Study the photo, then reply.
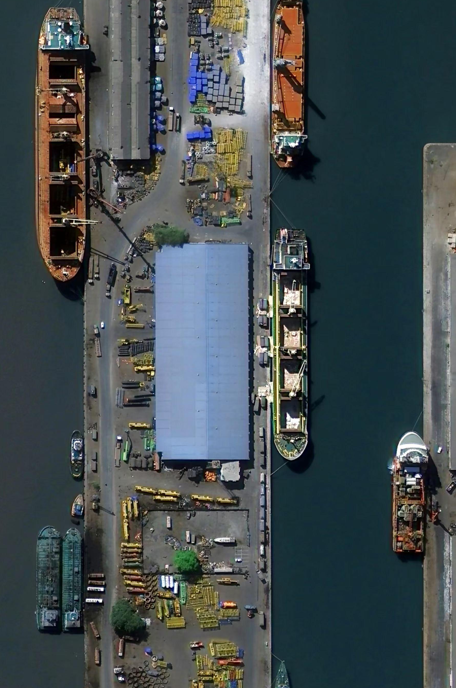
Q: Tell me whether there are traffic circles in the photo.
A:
No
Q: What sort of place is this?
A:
port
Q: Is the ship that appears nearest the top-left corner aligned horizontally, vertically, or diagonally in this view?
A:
vertically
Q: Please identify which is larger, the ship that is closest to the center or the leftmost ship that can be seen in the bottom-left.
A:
the ship that is closest to the center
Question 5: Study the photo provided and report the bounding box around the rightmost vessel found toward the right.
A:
[388,432,428,552]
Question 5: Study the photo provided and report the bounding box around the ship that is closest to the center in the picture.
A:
[270,229,310,461]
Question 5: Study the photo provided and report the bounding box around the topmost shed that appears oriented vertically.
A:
[108,0,150,159]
